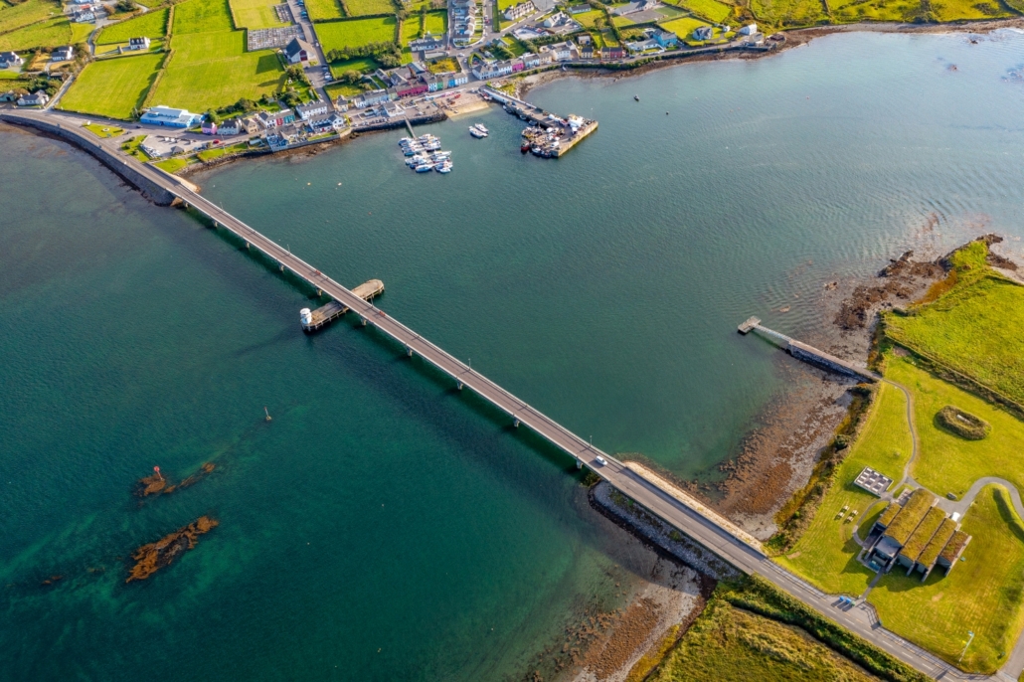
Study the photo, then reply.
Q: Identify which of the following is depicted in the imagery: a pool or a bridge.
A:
bridge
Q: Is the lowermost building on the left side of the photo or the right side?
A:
right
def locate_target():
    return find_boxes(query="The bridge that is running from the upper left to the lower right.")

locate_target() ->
[165,184,625,483]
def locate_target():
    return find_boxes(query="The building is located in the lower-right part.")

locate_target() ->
[851,491,970,585]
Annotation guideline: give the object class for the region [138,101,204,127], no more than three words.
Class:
building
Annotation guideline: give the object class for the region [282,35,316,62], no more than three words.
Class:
building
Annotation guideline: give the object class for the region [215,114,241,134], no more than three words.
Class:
house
